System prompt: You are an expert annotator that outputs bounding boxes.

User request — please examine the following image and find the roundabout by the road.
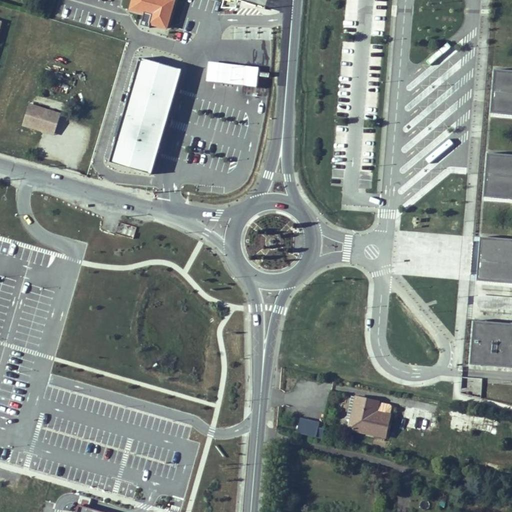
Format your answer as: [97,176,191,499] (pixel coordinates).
[226,194,320,290]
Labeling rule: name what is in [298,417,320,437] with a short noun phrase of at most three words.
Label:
shed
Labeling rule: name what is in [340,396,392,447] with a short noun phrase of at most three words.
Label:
house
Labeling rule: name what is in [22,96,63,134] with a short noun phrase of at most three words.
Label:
barn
